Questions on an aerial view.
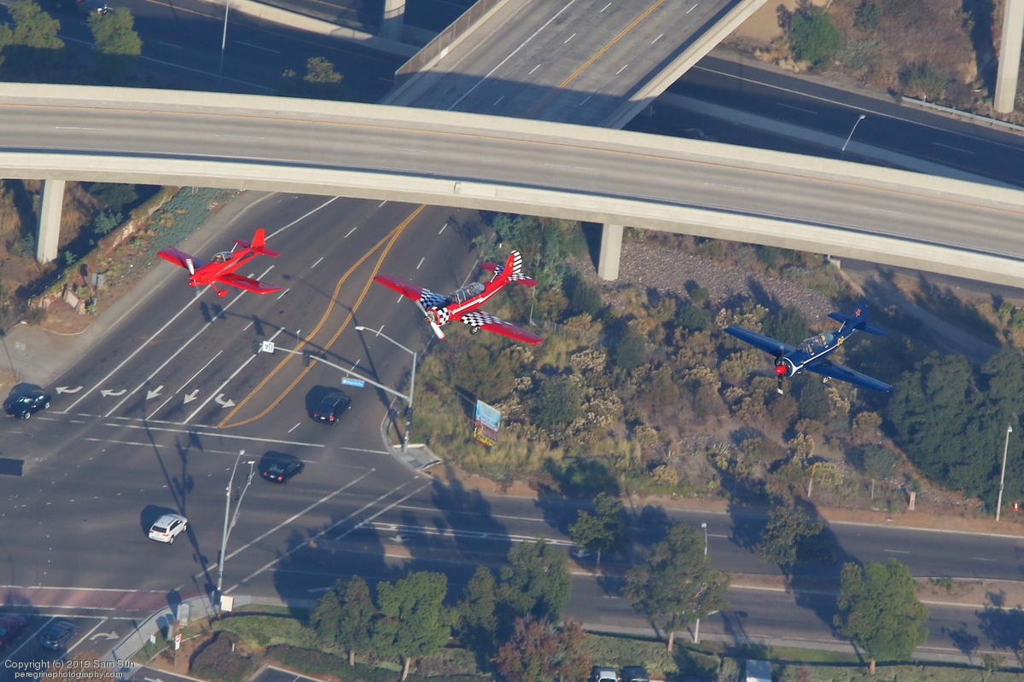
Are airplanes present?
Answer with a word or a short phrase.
Yes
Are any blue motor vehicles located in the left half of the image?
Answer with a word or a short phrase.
Yes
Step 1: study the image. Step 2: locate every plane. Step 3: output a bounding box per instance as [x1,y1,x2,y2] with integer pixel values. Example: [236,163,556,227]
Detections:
[373,246,548,344]
[157,227,282,302]
[724,297,898,393]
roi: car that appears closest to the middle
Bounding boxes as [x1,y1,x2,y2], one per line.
[312,389,352,418]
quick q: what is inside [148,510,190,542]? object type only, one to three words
car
